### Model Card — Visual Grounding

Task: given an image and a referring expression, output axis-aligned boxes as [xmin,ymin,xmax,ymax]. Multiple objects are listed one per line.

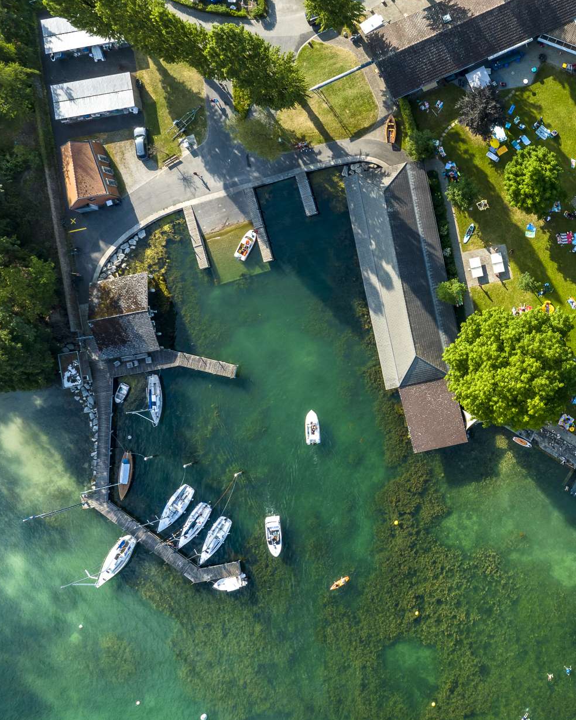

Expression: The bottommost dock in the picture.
[193,553,253,587]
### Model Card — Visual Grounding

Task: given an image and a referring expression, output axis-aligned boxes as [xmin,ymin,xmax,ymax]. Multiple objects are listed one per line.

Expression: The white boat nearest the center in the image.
[306,409,321,447]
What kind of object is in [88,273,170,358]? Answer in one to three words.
shed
